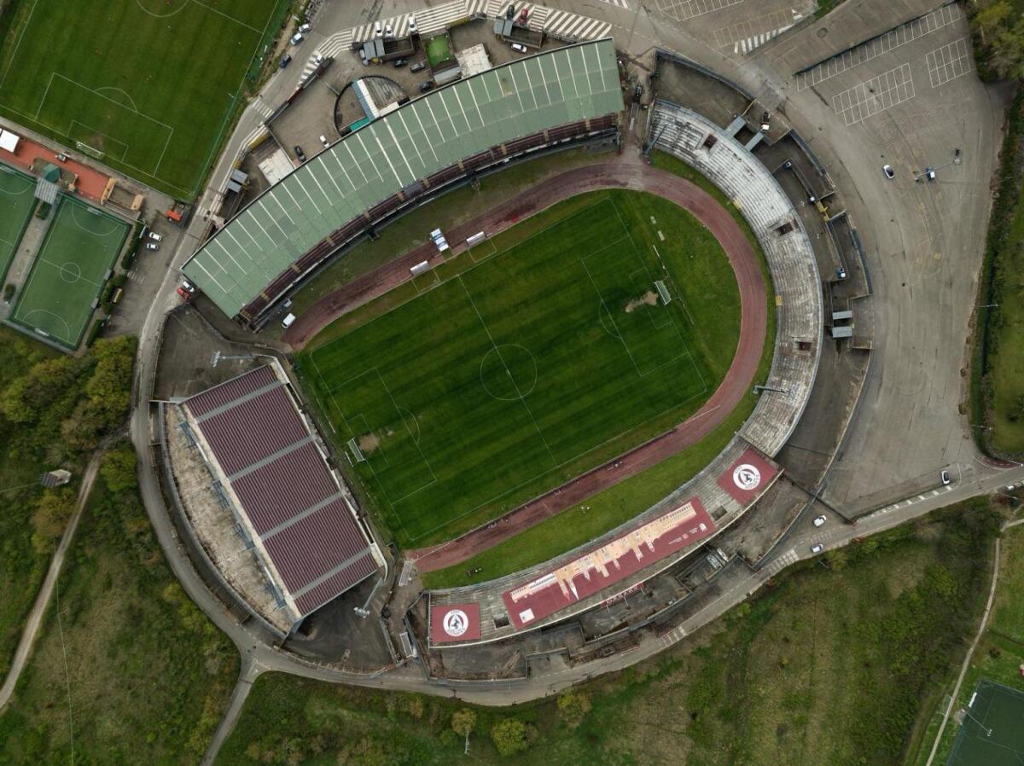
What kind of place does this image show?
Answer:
sports ground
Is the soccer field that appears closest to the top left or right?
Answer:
left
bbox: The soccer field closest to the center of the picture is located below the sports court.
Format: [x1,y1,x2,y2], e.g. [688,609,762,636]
[304,193,713,547]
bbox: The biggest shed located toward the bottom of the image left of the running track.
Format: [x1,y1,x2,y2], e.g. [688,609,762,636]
[42,469,76,489]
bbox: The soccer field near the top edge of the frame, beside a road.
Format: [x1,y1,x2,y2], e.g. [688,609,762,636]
[0,0,287,203]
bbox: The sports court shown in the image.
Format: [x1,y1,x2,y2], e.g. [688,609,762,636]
[428,35,451,65]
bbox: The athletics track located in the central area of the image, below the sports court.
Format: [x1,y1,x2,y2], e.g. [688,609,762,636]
[281,166,763,572]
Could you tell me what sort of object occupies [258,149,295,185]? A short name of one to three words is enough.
building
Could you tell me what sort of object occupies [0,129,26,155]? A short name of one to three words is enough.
tent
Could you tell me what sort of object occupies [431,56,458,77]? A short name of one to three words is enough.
shed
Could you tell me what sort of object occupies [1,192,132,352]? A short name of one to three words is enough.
soccer field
